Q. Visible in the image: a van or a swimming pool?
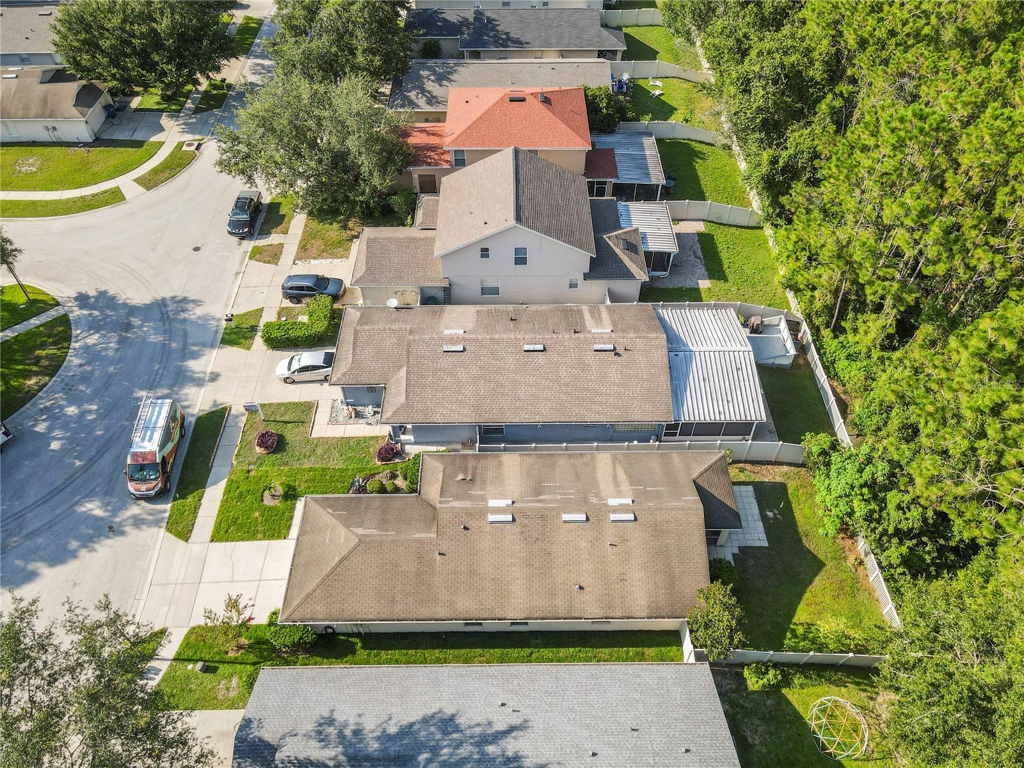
van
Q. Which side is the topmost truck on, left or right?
left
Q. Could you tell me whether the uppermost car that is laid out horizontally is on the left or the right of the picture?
left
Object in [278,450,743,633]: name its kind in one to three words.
house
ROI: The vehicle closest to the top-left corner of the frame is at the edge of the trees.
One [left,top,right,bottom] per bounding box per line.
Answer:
[224,190,261,240]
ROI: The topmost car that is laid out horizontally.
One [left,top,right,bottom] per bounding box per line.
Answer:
[280,270,350,303]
